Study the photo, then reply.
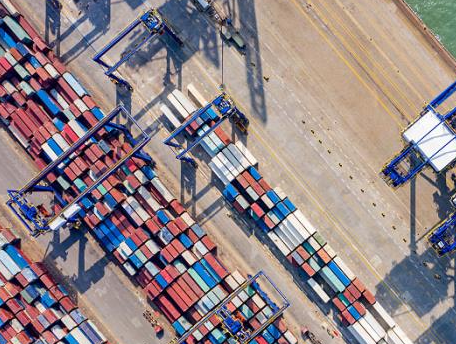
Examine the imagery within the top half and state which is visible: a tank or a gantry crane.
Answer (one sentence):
It is a gantry crane that can be seen within the top half.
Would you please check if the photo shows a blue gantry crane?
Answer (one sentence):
Yes, a blue gantry crane appears in the view.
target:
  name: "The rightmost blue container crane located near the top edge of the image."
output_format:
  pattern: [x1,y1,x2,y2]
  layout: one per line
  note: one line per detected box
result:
[92,9,183,92]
